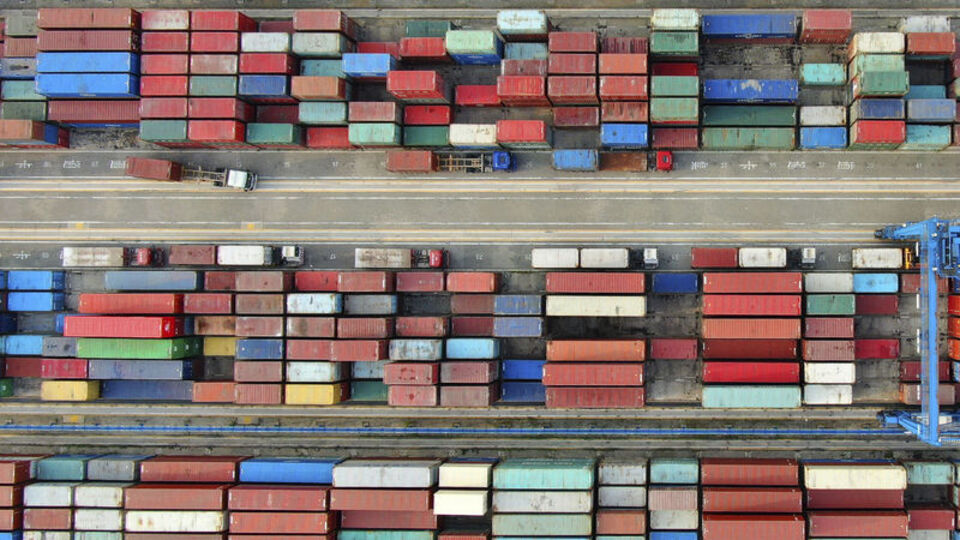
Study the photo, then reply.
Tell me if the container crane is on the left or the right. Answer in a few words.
right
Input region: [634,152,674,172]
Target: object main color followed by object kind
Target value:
red vehicle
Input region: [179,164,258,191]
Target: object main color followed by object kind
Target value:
white truck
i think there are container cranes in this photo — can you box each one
[872,214,960,450]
